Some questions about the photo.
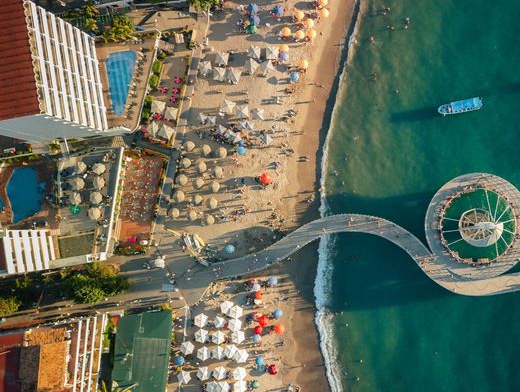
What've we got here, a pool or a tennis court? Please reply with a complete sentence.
I can see a pool in this picture.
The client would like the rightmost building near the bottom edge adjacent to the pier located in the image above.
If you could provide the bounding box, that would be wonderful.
[111,310,176,392]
